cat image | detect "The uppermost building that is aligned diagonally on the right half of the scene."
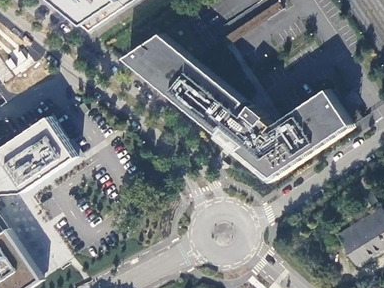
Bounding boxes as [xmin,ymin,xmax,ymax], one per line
[227,2,287,43]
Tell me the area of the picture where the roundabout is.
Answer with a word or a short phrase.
bottom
